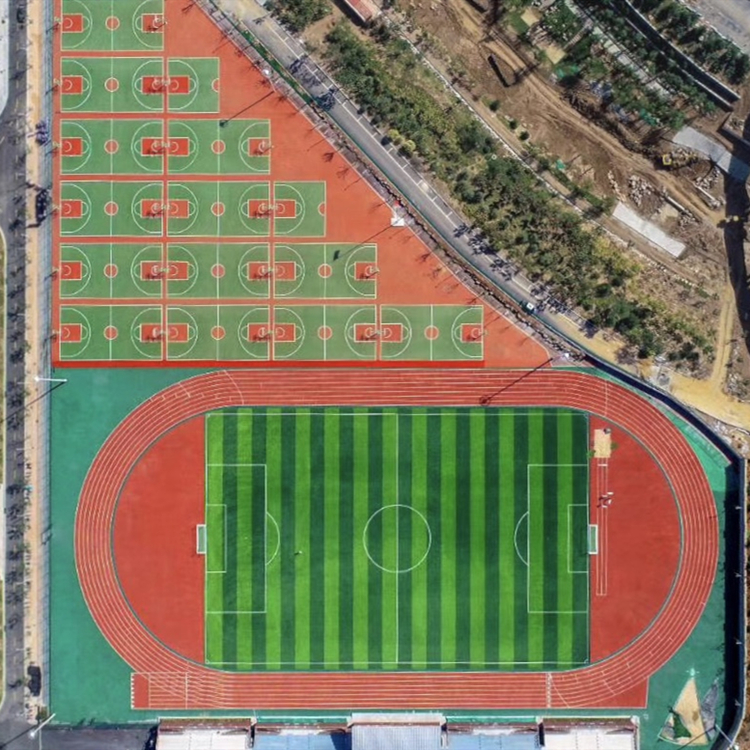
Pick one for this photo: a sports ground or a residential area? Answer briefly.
sports ground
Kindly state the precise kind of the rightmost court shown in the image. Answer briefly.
basketball court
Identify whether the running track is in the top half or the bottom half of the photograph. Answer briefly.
bottom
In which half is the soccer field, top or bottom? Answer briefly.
bottom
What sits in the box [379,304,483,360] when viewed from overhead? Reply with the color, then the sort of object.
green basketball court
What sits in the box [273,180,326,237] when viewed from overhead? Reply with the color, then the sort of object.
green basketball court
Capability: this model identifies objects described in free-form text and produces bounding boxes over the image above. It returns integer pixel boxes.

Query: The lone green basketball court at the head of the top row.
[61,0,164,51]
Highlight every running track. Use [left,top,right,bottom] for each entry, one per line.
[74,369,719,709]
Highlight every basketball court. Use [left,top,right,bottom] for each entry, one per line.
[61,56,164,113]
[59,242,163,299]
[59,304,163,360]
[166,180,270,237]
[273,180,326,237]
[272,242,376,299]
[60,180,163,237]
[272,304,376,360]
[166,304,270,360]
[167,56,220,113]
[166,242,270,299]
[60,118,163,175]
[167,118,270,175]
[61,0,164,51]
[379,304,483,360]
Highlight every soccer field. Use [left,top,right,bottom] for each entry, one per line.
[197,408,597,670]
